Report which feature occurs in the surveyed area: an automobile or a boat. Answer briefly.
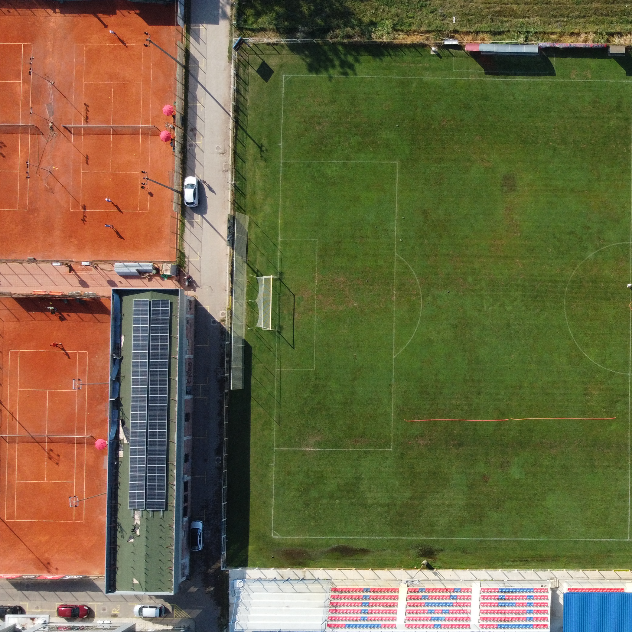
automobile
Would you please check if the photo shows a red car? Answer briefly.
Yes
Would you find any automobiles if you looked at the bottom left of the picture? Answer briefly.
Yes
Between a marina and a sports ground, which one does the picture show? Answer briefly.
sports ground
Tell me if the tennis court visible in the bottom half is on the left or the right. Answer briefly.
left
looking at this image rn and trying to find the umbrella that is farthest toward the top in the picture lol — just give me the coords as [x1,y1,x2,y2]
[162,104,176,118]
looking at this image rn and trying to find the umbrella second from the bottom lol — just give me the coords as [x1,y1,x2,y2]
[159,130,175,143]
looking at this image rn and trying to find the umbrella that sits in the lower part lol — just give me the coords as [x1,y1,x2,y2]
[95,437,109,451]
